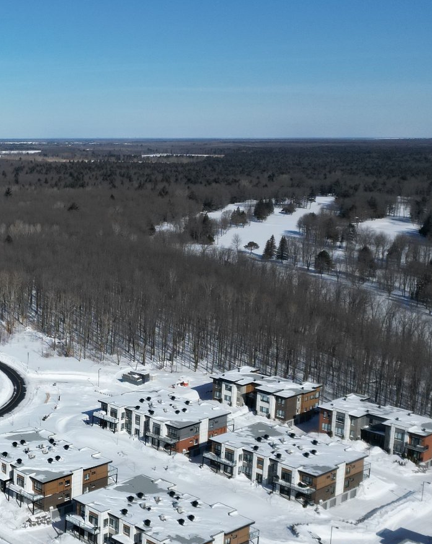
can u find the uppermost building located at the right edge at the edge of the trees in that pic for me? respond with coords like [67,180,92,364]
[319,394,432,465]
